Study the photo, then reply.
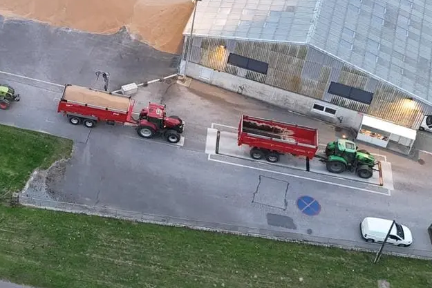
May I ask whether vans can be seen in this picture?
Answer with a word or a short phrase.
Yes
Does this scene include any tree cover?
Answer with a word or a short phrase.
No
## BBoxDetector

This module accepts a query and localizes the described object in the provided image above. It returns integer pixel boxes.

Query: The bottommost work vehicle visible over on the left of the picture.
[136,106,186,143]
